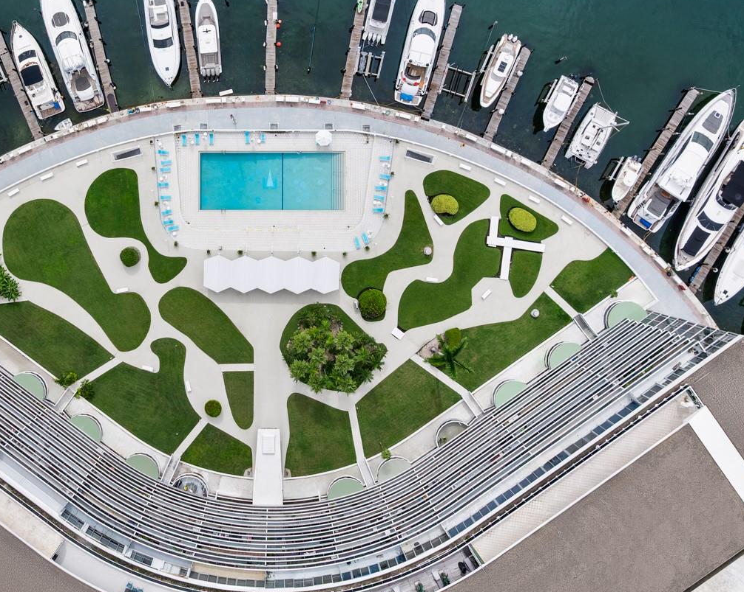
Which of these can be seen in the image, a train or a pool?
pool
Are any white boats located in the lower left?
No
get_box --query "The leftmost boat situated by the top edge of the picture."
[9,16,68,121]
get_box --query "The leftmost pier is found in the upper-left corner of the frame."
[0,29,46,138]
